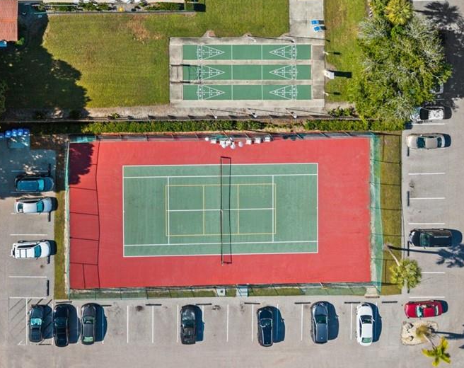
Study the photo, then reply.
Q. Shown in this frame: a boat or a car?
car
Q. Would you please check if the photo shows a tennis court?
Yes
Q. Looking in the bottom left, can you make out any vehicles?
Yes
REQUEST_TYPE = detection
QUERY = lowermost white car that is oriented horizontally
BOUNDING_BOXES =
[10,240,51,260]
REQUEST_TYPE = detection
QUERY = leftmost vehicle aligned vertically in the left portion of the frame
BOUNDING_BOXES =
[28,302,45,345]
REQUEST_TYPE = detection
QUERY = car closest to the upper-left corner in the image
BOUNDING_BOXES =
[14,174,53,193]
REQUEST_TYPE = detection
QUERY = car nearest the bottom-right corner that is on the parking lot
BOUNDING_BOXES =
[403,298,442,318]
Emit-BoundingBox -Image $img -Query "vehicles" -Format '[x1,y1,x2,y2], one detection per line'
[80,301,97,343]
[256,304,276,346]
[28,302,45,345]
[14,197,54,215]
[179,303,199,345]
[14,174,53,193]
[410,106,450,124]
[409,228,452,249]
[10,240,51,260]
[403,298,442,318]
[356,301,376,345]
[407,132,445,149]
[310,299,330,344]
[52,302,72,346]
